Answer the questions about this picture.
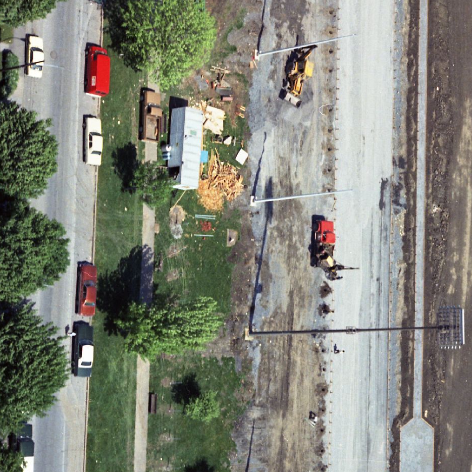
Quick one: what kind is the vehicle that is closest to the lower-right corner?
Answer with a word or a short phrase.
truck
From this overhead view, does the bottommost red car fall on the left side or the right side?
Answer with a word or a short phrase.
left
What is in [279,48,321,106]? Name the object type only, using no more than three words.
work vehicle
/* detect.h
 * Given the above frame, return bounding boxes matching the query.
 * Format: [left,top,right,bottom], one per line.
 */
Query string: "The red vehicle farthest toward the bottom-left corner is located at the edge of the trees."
[75,262,97,318]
